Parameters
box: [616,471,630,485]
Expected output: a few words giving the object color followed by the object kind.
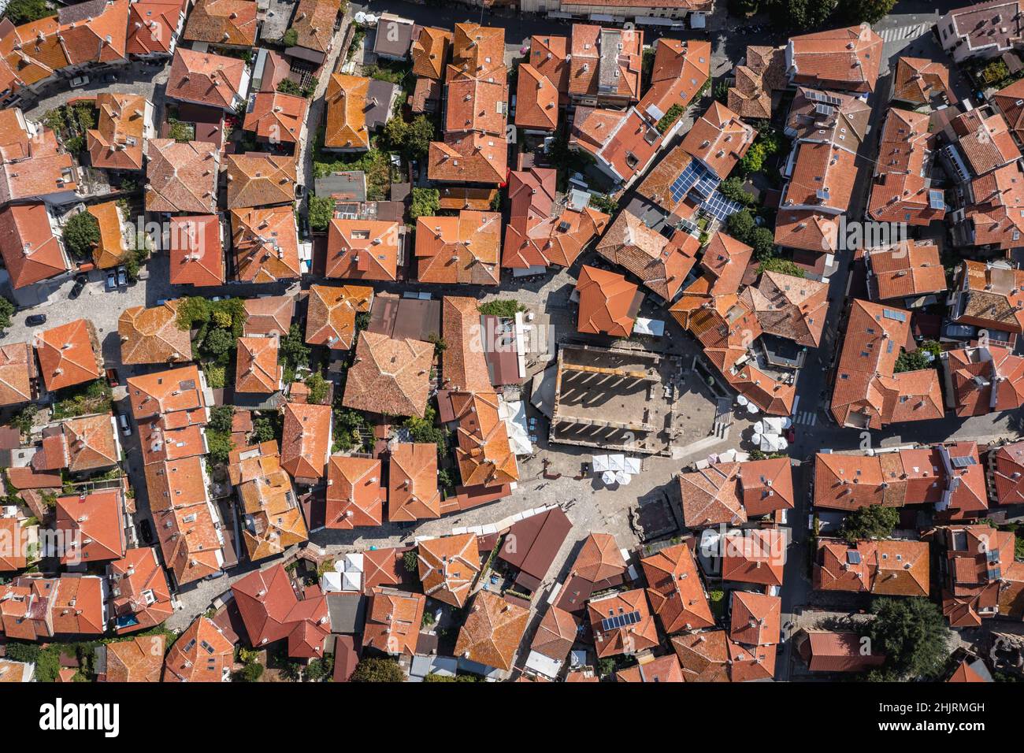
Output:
white umbrella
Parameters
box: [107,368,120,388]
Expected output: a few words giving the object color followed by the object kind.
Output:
red vehicle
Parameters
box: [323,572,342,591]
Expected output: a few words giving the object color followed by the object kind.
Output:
white umbrella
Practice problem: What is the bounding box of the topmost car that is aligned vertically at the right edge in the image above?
[973,85,985,107]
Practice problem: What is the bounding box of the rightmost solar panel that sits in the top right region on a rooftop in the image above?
[929,190,944,209]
